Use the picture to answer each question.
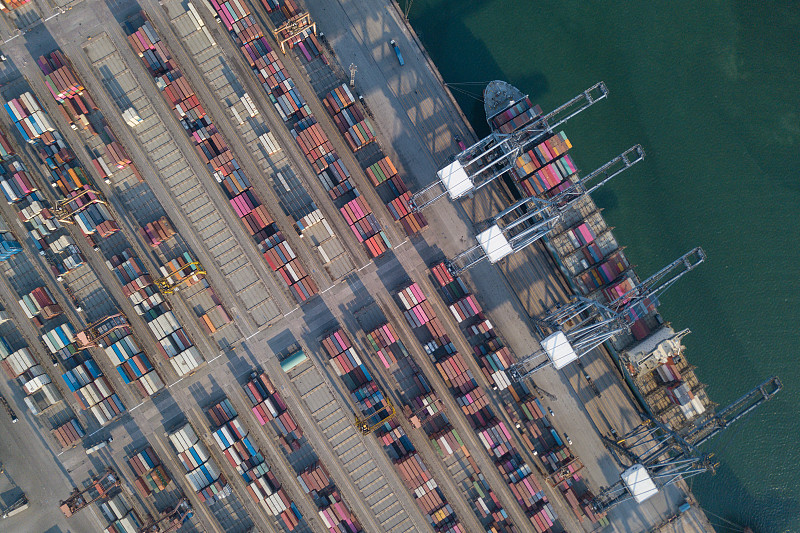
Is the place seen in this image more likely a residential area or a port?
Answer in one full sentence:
This image shows a port.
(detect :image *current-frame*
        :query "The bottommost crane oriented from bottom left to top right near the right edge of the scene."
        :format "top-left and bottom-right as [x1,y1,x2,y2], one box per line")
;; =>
[591,374,778,513]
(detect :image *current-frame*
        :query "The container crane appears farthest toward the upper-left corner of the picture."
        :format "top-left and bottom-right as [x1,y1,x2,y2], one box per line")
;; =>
[52,186,112,226]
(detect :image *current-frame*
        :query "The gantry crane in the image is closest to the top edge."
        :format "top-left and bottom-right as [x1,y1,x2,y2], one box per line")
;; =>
[273,10,319,55]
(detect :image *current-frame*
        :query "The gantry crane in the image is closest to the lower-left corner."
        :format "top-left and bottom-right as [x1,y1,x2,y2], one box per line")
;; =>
[56,467,122,520]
